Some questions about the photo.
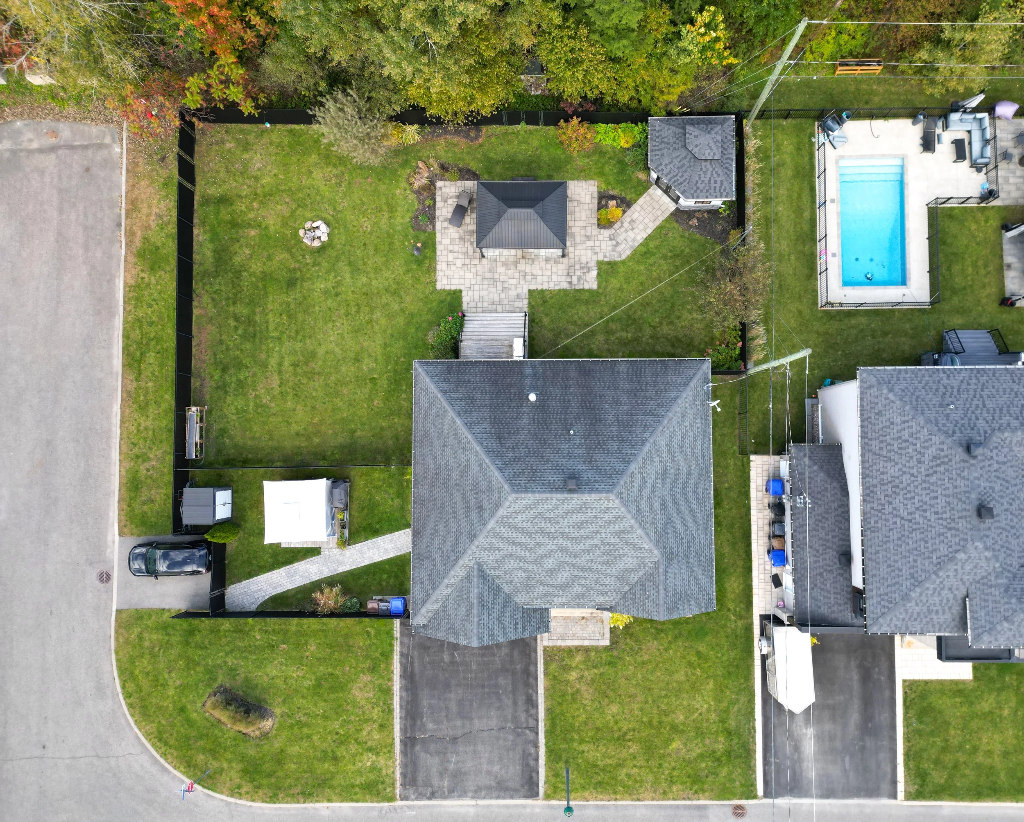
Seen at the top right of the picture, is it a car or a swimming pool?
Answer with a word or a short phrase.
swimming pool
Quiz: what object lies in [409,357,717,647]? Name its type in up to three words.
house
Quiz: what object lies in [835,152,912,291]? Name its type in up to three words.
swimming pool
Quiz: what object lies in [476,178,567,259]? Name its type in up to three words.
gazebo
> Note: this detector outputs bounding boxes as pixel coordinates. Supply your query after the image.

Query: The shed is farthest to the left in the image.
[179,487,233,524]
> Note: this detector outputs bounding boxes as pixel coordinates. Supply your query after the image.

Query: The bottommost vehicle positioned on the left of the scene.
[131,541,211,583]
